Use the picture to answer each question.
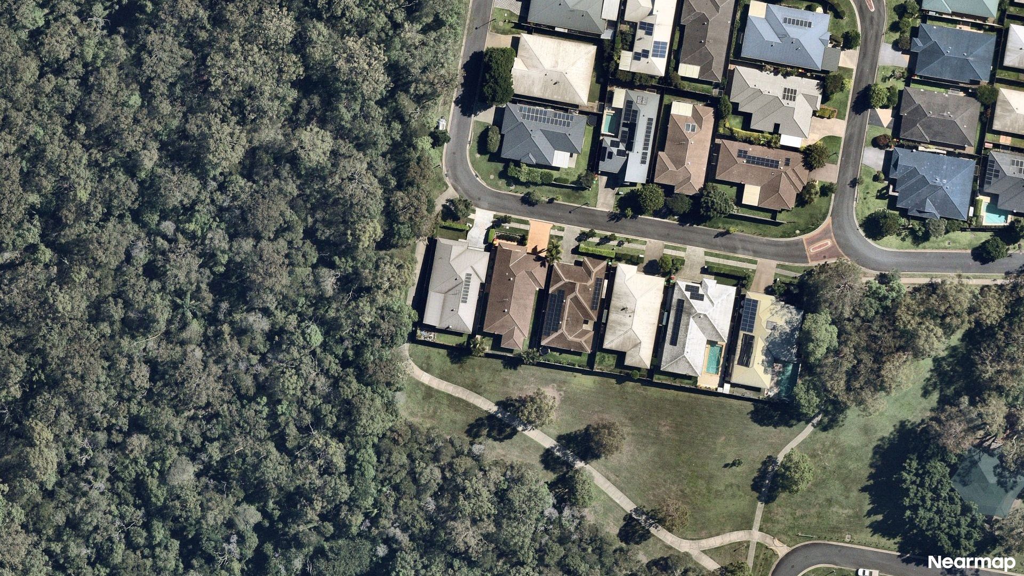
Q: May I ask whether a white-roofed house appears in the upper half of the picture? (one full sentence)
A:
Yes, the scene does show a white-roofed house in the upper half of the picture.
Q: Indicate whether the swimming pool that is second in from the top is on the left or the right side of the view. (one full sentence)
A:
The swimming pool that is second in from the top appears in the right half of the scene.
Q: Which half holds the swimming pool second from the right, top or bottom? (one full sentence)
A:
The swimming pool second from the right is in the bottom half of the image.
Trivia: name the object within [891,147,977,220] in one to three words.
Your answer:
house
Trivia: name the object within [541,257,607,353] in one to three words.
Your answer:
house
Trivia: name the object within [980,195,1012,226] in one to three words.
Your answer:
swimming pool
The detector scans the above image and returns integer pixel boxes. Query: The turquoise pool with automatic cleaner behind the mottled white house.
[705,342,723,376]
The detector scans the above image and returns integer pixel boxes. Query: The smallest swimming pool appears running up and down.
[600,110,616,136]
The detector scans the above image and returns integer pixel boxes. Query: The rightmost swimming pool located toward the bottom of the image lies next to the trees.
[776,362,801,398]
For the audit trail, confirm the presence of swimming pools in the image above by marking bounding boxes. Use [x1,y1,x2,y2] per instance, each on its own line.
[705,342,723,376]
[600,110,616,136]
[776,362,801,398]
[980,195,1012,226]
